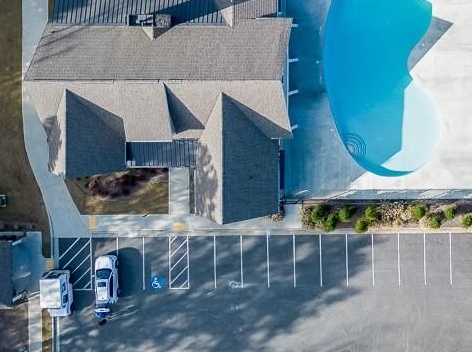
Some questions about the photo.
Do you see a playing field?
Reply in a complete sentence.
No, no playing field is visible in the view.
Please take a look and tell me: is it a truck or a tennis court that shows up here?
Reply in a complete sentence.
Of the two, only a truck appears.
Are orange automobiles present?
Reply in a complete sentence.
No, the photo shows no orange automobile.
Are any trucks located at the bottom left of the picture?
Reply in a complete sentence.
Yes, a truck appears at the bottom left of the picture.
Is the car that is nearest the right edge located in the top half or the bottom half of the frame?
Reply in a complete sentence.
You can find the car that is nearest the right edge in the bottom half.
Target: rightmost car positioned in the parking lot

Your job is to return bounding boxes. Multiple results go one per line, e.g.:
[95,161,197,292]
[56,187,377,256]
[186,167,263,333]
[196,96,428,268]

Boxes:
[91,253,119,311]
